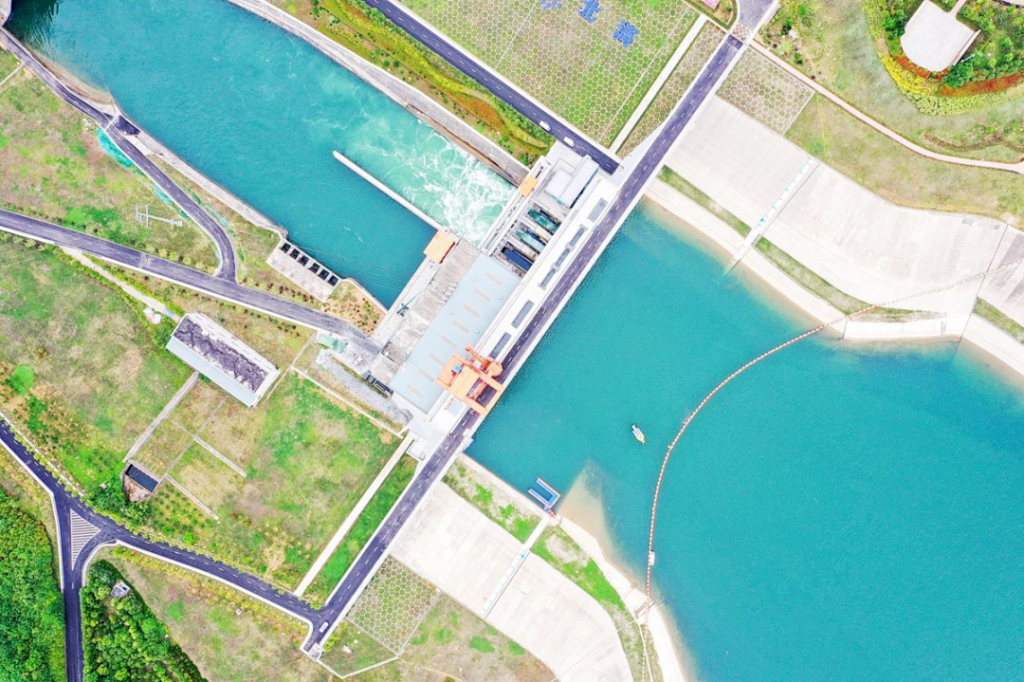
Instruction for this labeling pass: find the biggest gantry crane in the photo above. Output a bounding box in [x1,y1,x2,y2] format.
[435,345,506,416]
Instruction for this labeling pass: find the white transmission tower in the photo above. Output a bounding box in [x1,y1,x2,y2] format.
[137,200,183,226]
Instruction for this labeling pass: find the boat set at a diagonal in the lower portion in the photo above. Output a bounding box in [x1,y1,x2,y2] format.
[631,425,645,443]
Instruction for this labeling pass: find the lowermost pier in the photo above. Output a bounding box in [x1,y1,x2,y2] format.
[528,478,561,518]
